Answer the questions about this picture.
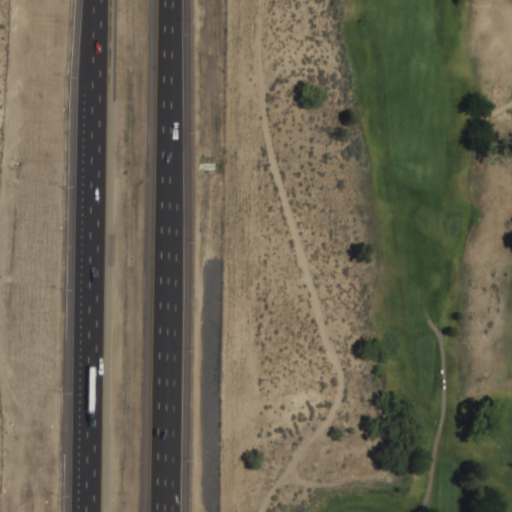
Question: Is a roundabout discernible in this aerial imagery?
No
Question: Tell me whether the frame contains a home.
No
